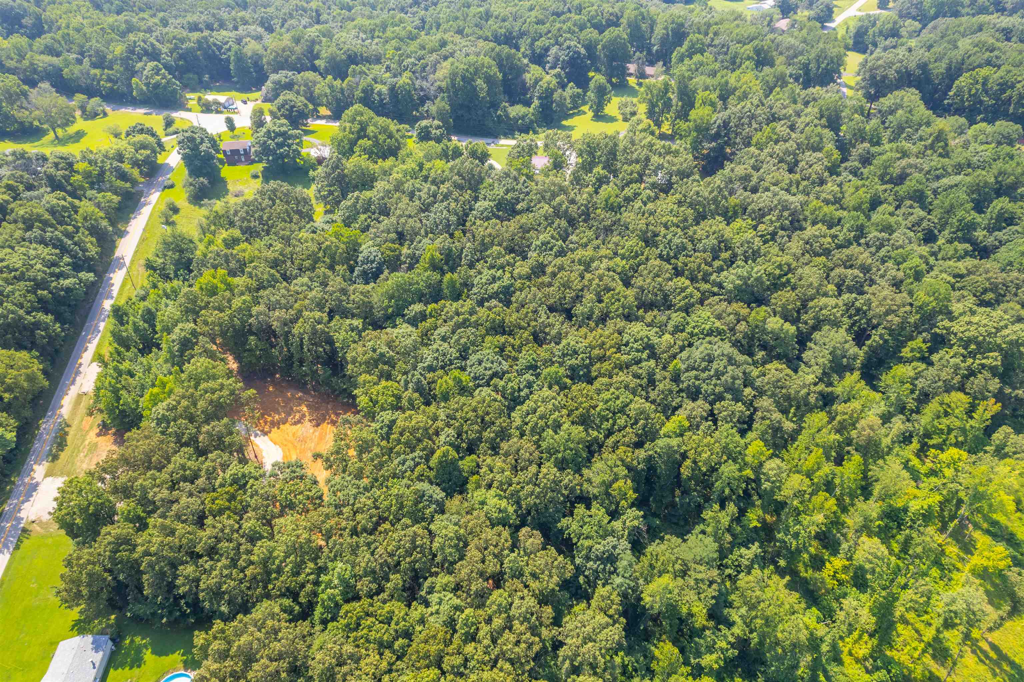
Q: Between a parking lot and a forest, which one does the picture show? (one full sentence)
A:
The picture captures a forest.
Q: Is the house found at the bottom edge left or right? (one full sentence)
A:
It is on the left.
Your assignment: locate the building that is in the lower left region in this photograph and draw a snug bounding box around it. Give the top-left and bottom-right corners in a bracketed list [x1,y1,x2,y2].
[42,634,113,682]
